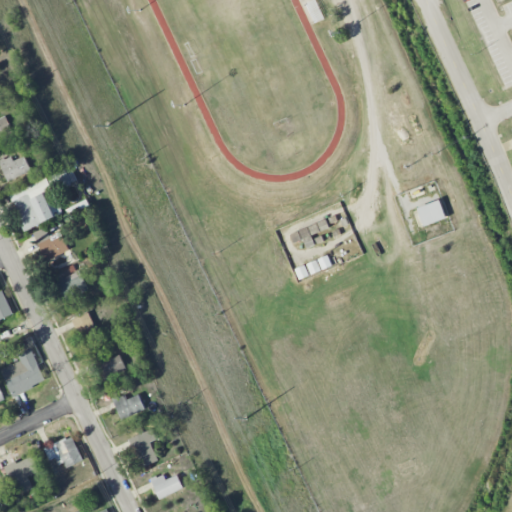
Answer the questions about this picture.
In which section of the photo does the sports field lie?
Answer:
top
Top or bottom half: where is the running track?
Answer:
top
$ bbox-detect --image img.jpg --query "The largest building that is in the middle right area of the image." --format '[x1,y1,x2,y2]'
[416,198,448,227]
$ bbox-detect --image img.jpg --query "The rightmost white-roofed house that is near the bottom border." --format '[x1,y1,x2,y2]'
[150,474,180,500]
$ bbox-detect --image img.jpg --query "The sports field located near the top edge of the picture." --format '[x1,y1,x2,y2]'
[157,0,339,176]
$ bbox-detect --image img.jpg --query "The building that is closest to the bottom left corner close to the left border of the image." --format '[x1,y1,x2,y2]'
[5,453,34,482]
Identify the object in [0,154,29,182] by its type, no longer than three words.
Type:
house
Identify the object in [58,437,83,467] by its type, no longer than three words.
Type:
house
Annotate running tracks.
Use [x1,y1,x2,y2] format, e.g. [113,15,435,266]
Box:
[150,0,344,182]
